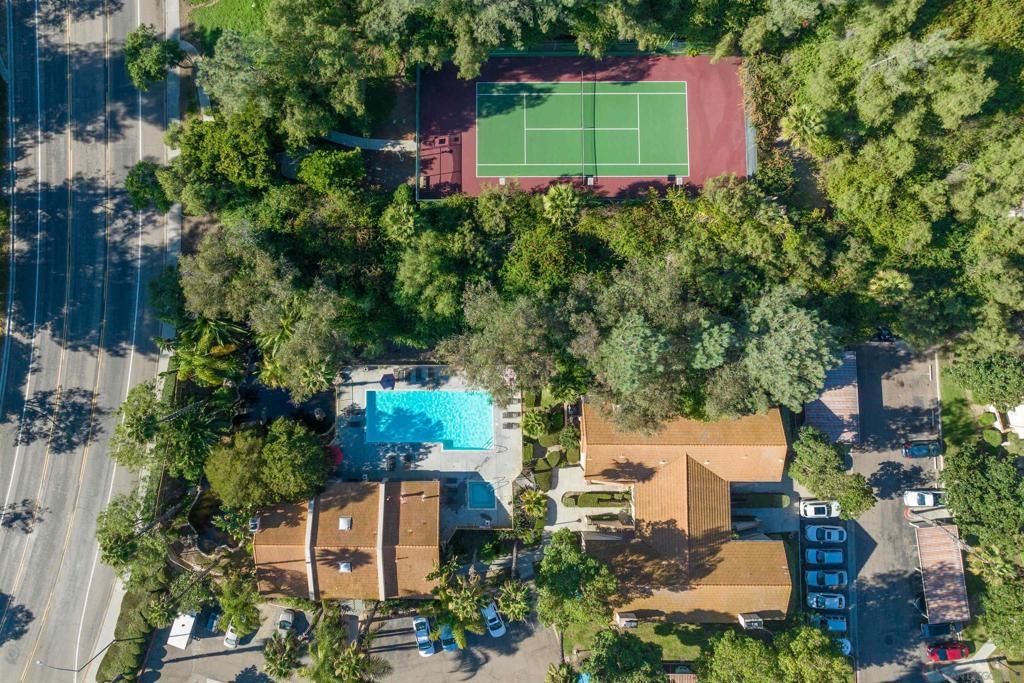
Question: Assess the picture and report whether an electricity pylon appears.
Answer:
No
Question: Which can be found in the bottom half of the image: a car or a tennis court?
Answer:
car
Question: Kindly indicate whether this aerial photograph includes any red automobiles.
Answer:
Yes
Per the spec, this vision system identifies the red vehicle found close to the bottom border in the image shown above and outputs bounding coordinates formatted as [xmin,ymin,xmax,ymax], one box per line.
[926,641,967,662]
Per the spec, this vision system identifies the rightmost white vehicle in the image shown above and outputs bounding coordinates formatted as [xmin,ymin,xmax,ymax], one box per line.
[901,490,948,509]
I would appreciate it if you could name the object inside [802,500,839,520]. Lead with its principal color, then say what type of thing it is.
white car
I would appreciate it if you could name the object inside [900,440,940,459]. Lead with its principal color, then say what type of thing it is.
blue car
